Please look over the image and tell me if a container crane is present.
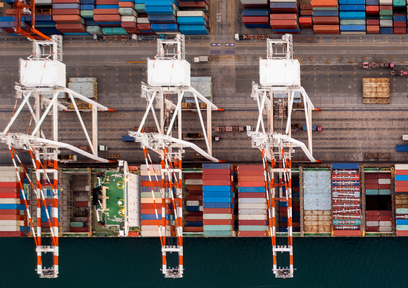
Yes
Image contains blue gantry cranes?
No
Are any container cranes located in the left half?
Yes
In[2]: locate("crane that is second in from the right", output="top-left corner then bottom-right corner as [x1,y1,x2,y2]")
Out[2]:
[131,33,231,281]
